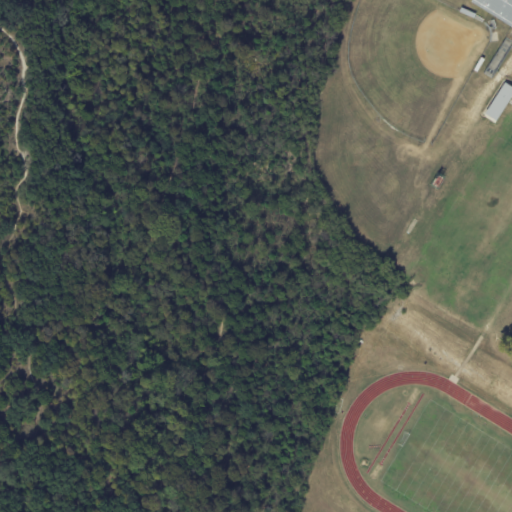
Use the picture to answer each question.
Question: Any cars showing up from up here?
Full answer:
No, I can see no car in this picture.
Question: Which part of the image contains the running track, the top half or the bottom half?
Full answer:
You can find the running track in the bottom half.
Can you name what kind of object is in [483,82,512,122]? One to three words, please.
shed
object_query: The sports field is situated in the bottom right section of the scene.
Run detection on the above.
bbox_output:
[382,400,512,512]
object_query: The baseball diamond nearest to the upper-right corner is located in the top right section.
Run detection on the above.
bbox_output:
[348,0,491,152]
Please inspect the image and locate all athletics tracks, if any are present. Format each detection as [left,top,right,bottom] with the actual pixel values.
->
[340,371,512,512]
